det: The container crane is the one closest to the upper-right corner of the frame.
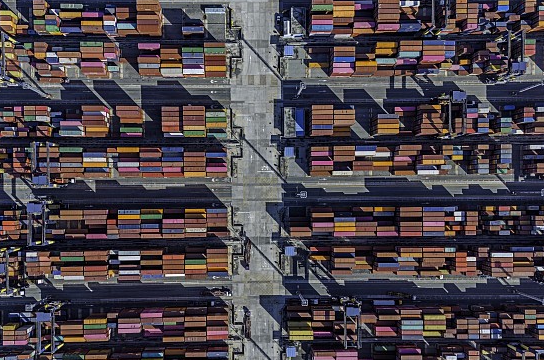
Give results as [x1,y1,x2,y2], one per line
[487,29,527,84]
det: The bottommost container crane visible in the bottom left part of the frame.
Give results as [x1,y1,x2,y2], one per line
[35,301,71,358]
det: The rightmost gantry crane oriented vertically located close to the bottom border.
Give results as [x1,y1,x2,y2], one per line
[334,297,360,353]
